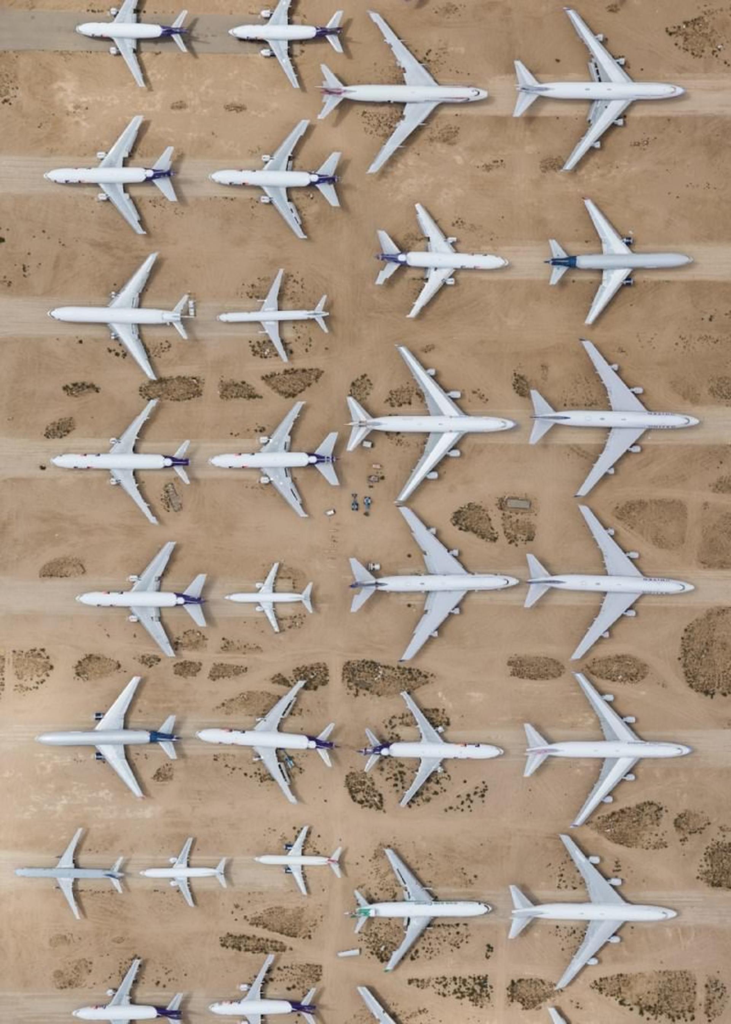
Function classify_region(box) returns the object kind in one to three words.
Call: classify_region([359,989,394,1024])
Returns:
airplane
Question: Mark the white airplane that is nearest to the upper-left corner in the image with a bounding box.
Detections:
[76,0,188,86]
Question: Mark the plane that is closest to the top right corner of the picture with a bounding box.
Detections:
[516,10,685,169]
